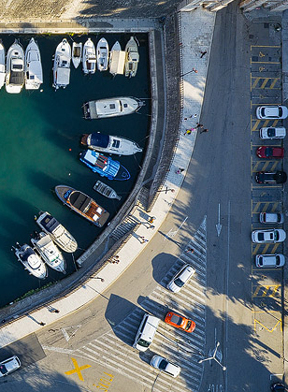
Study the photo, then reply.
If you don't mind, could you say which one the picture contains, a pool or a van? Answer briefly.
van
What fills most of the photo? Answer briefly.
paved ground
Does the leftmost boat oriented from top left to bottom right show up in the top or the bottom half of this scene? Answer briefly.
bottom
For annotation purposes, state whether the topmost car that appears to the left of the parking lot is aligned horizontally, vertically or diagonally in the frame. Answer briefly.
diagonally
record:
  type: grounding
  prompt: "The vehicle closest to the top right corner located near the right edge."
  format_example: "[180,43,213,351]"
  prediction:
[254,104,287,120]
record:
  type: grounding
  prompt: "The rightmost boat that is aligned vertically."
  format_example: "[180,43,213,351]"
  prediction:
[121,35,141,81]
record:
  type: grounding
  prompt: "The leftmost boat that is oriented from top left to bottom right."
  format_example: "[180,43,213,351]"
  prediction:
[11,242,48,285]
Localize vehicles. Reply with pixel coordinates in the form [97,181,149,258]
[257,125,287,139]
[132,313,164,351]
[254,145,285,160]
[254,253,285,268]
[148,354,182,378]
[0,354,24,377]
[249,228,285,244]
[163,262,200,295]
[252,170,286,185]
[254,104,287,120]
[257,212,283,225]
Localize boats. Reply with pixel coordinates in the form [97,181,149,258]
[50,35,75,93]
[81,97,151,122]
[11,242,48,285]
[5,35,25,98]
[80,35,98,81]
[71,40,81,70]
[35,211,77,261]
[106,34,128,85]
[75,131,143,158]
[31,233,67,272]
[91,179,124,200]
[94,36,112,82]
[56,187,110,232]
[121,35,141,81]
[23,36,41,97]
[78,153,131,180]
